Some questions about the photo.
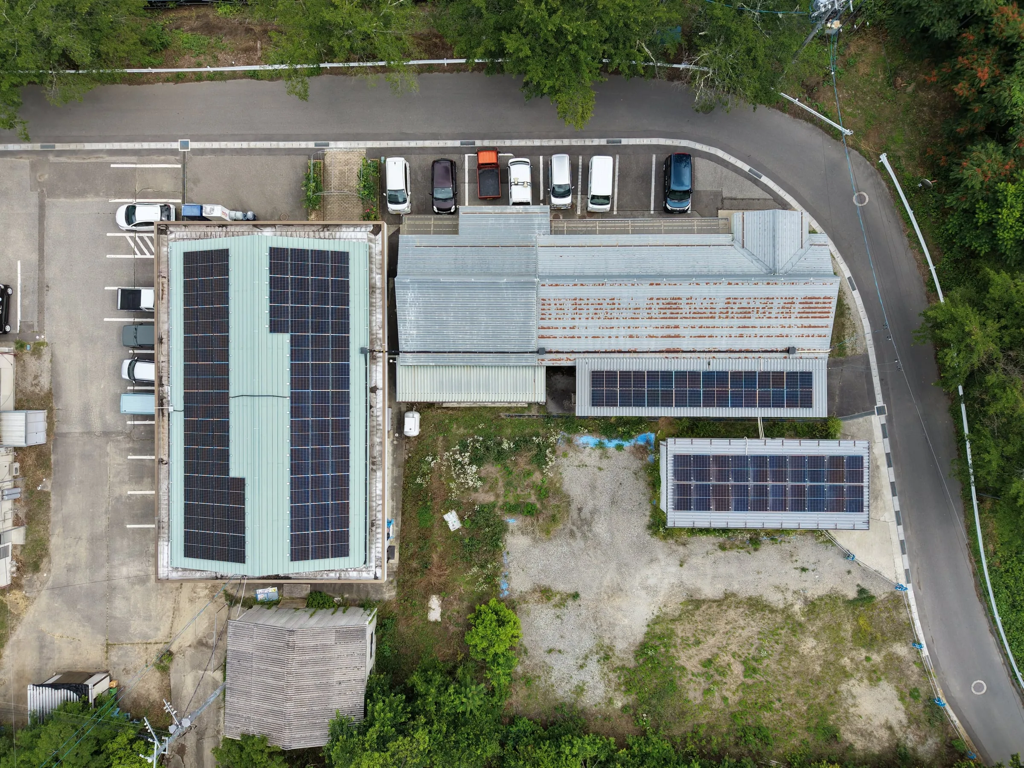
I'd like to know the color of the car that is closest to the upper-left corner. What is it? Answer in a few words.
white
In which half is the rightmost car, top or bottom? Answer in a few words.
top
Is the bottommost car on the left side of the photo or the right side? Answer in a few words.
left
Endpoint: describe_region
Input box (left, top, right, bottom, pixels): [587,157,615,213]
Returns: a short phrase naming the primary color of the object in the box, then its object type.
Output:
white car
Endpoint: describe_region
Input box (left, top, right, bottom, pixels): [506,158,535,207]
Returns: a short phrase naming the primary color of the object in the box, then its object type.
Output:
white car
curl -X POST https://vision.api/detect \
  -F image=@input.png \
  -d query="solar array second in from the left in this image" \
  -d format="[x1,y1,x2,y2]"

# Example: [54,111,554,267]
[265,247,352,562]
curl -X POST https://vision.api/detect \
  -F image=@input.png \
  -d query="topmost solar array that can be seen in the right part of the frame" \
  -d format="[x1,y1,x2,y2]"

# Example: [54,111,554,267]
[591,369,815,410]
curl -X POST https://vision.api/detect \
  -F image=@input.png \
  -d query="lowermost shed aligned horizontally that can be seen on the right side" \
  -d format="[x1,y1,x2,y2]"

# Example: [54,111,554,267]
[655,437,871,531]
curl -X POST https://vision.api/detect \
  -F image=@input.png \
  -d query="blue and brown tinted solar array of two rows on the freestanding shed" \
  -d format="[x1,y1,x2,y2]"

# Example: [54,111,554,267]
[673,453,866,512]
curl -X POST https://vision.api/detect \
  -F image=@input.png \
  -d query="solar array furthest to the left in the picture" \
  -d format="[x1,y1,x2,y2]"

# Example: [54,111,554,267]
[181,248,248,564]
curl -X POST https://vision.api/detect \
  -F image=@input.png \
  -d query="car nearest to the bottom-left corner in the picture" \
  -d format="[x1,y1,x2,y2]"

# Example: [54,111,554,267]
[120,392,154,415]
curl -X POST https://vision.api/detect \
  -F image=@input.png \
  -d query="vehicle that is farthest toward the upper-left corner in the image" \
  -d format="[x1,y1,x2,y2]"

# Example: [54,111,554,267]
[115,200,182,233]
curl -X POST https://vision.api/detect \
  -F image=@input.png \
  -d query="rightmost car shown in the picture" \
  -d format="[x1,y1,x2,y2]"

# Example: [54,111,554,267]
[662,155,695,214]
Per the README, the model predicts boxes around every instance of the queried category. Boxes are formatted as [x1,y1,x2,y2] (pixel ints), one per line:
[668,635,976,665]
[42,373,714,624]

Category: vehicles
[120,392,154,415]
[113,287,154,311]
[430,162,458,213]
[474,147,502,201]
[119,322,154,350]
[547,158,575,212]
[121,356,154,385]
[506,158,535,207]
[587,157,615,213]
[384,161,412,215]
[662,155,695,214]
[0,283,14,334]
[115,200,182,233]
